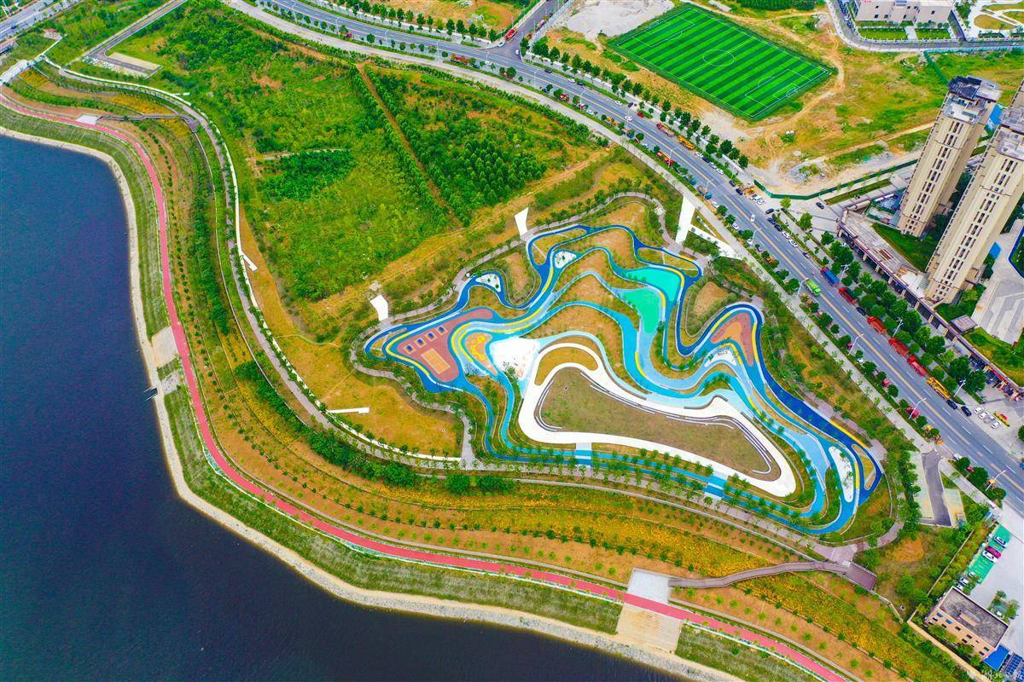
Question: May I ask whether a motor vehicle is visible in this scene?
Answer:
Yes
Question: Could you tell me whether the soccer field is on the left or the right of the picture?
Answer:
right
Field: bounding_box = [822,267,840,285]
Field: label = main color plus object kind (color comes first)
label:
blue vehicle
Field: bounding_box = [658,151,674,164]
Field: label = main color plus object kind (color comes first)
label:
red vehicle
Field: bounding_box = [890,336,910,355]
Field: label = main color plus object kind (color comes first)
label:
red vehicle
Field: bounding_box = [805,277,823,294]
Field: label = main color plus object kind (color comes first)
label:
green vehicle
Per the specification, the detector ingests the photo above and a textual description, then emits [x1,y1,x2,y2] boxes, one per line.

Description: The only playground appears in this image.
[357,224,885,535]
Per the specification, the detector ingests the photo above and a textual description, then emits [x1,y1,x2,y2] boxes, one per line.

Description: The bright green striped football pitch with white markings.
[608,2,839,121]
